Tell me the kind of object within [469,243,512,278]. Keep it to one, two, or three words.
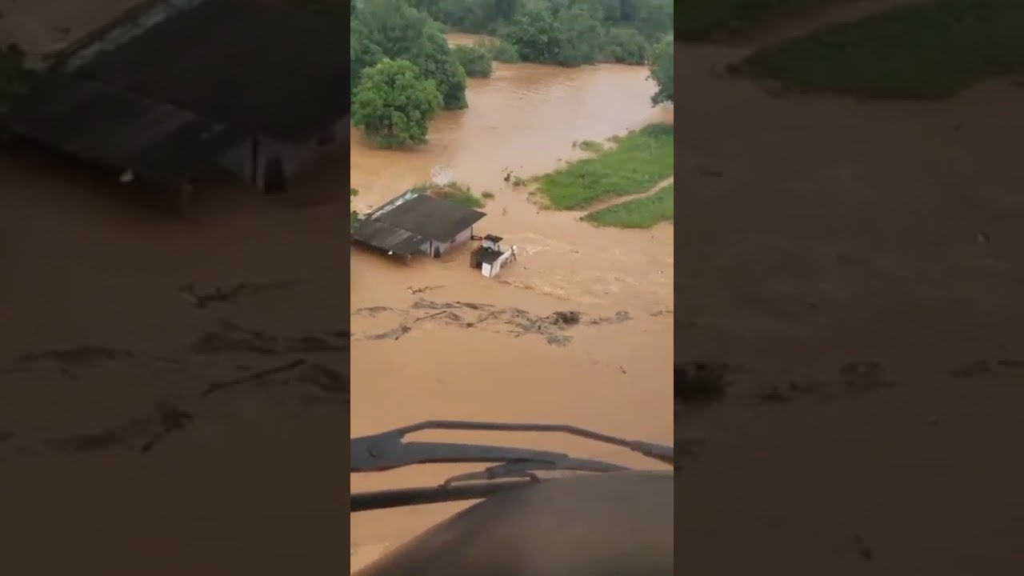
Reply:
shed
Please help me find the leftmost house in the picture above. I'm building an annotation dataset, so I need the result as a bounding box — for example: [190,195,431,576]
[350,194,486,261]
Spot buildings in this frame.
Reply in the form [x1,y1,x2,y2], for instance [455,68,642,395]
[469,243,512,278]
[350,194,486,261]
